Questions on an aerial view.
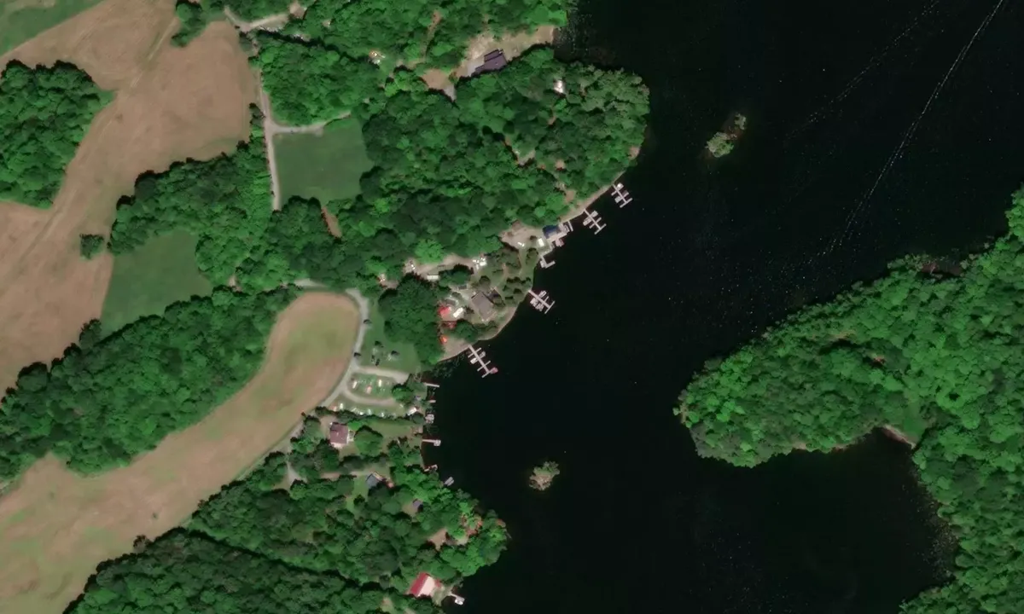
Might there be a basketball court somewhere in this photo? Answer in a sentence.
No, the photo shows no basketball court.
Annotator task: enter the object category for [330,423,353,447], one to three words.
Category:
house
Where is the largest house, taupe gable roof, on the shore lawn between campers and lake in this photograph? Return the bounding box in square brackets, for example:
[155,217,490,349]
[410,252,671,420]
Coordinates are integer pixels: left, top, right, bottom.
[470,292,498,321]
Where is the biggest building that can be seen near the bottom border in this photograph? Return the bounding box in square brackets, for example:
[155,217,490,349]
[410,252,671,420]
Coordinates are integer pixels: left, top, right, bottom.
[409,571,436,600]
